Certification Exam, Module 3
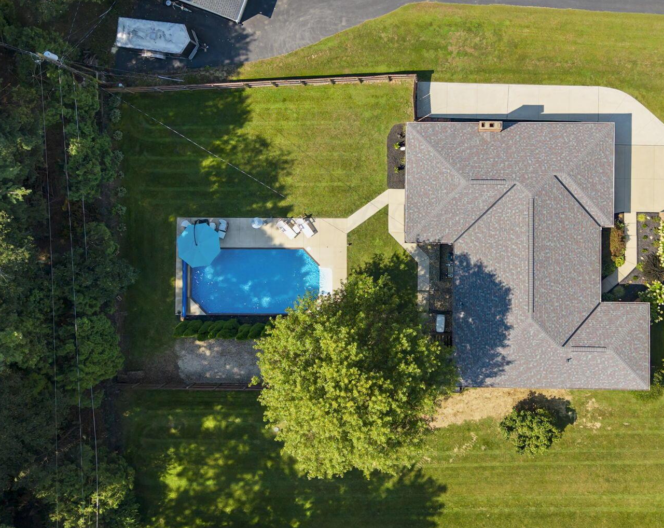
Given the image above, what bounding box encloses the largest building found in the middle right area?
[404,120,652,392]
